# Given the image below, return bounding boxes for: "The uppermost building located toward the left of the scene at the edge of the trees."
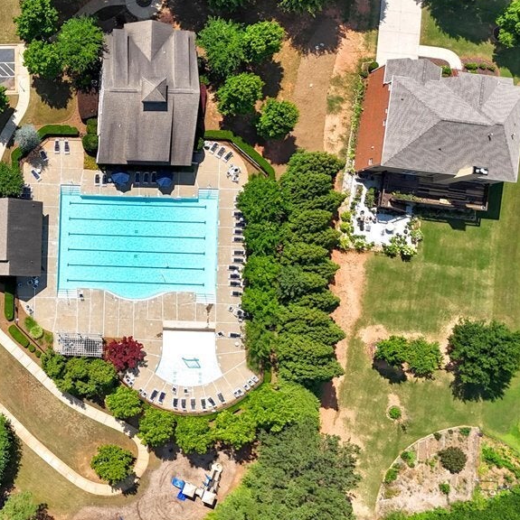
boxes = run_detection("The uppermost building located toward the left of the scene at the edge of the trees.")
[96,20,199,165]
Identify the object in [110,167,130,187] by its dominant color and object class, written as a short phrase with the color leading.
blue umbrella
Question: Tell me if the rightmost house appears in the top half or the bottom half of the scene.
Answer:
top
